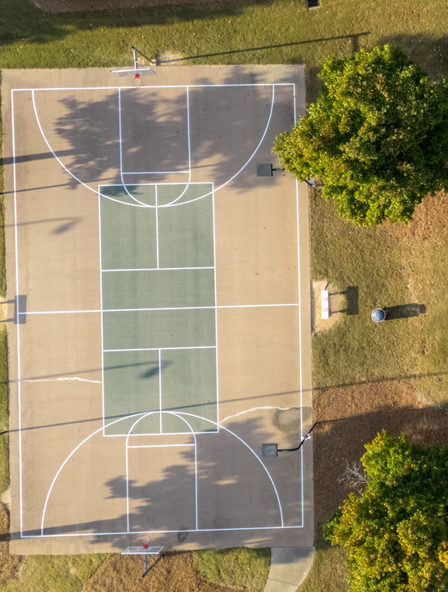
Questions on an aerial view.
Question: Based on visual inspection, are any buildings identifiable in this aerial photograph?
No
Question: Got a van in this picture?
No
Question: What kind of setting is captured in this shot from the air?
sports ground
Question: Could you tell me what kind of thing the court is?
basketball court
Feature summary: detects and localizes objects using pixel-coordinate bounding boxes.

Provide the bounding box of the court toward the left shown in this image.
[1,65,314,554]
